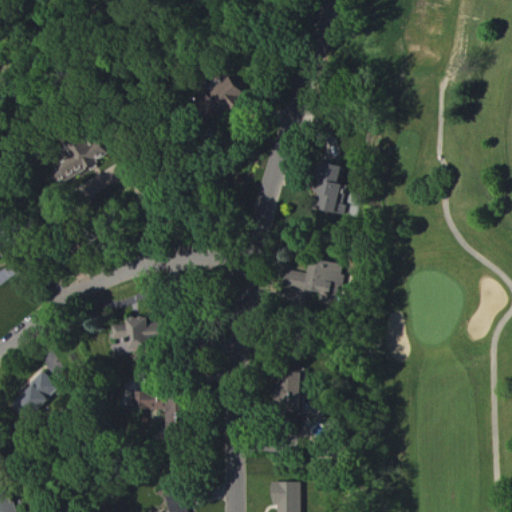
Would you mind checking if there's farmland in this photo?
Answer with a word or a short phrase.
No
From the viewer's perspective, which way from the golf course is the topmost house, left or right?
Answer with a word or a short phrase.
to the left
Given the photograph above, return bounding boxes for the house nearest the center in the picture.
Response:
[282,259,346,298]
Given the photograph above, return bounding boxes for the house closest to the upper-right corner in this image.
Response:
[324,164,346,213]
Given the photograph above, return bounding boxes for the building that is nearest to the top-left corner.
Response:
[52,140,106,182]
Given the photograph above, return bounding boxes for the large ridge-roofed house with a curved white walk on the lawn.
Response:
[270,482,300,512]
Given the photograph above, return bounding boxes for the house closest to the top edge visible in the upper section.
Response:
[206,76,242,110]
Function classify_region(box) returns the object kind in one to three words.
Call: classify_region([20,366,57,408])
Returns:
house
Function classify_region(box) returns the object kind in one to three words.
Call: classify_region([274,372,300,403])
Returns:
house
